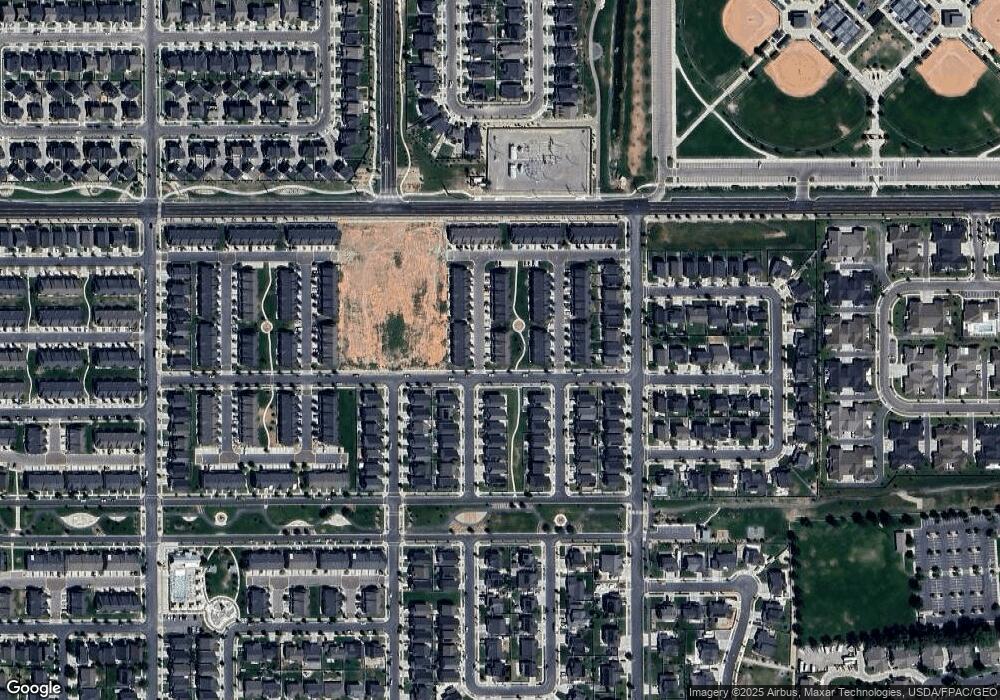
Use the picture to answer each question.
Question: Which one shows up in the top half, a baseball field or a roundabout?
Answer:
baseball field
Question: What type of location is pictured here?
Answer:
residential area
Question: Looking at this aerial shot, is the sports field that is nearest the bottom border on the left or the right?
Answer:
right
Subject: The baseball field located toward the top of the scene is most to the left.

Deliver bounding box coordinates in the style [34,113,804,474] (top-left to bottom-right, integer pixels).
[679,0,780,92]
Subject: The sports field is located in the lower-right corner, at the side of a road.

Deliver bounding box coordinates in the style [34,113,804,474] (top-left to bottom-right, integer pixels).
[796,522,917,640]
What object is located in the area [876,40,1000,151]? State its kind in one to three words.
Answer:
baseball field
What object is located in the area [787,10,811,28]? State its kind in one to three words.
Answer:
building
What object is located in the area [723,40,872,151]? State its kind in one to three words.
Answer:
baseball field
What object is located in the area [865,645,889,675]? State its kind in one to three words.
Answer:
house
